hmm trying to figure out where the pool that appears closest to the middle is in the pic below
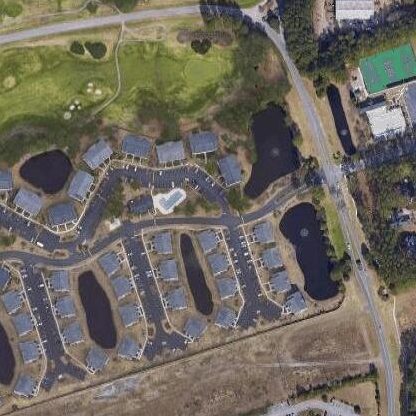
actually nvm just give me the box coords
[153,187,186,214]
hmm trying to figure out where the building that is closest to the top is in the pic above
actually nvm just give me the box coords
[335,0,374,19]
